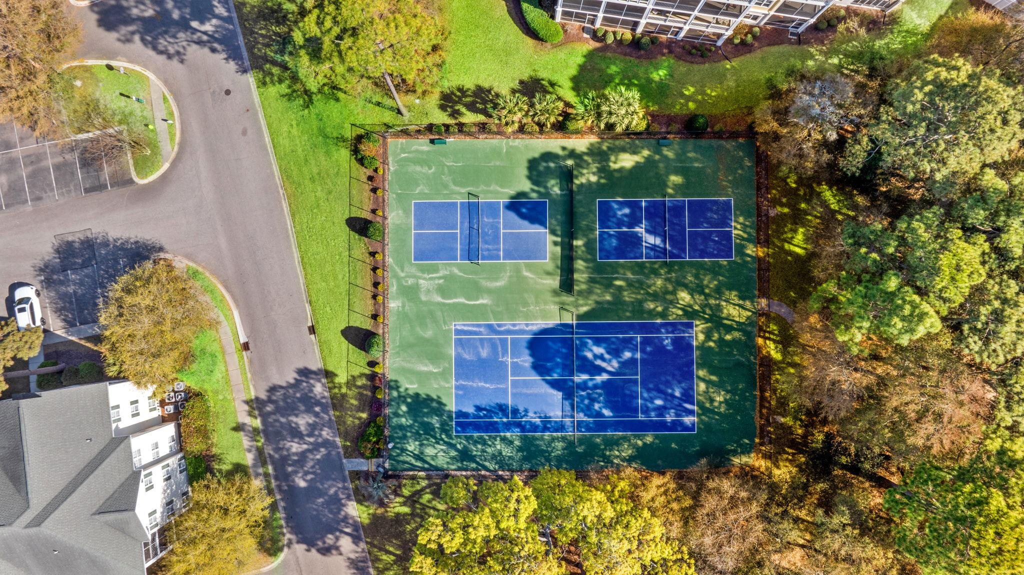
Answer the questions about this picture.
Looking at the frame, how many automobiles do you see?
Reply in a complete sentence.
My tally gives 1 automobile in this photo.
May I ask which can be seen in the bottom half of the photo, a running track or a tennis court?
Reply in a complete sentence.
You can see a tennis court in the bottom half of the photo.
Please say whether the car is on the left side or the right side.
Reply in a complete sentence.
The car appears in the left half of the scene.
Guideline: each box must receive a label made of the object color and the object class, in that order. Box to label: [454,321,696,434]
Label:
blue tennis court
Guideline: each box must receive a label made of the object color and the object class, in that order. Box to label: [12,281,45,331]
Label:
white car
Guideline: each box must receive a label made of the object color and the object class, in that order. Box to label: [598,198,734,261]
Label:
blue sports court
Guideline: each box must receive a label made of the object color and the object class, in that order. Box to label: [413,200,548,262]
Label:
blue sports court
